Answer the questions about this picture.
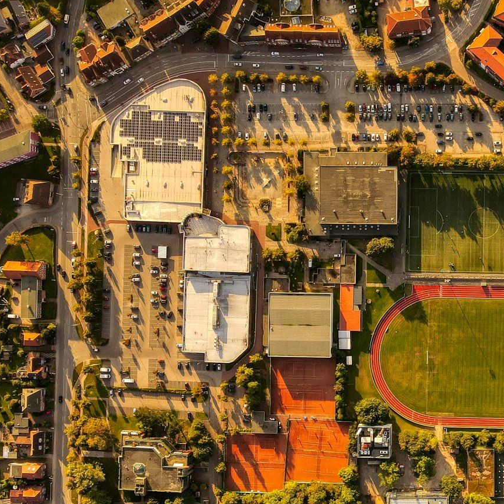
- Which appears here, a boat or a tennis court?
tennis court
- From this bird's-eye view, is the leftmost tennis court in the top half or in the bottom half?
bottom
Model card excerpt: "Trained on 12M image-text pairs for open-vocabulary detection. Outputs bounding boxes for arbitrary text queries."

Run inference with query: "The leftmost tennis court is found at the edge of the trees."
[223,435,287,491]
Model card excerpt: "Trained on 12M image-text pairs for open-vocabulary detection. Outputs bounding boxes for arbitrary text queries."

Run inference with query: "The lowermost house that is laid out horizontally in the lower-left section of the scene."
[0,484,47,504]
